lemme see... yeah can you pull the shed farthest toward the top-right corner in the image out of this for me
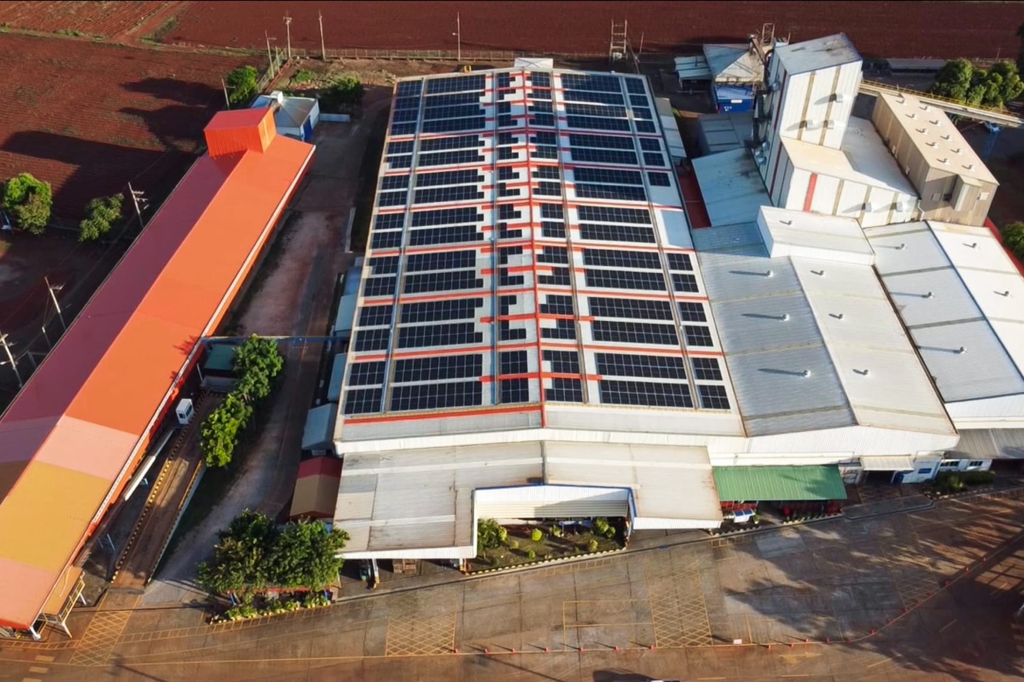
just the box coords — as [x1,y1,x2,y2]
[886,57,947,81]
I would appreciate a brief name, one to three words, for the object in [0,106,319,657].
shed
